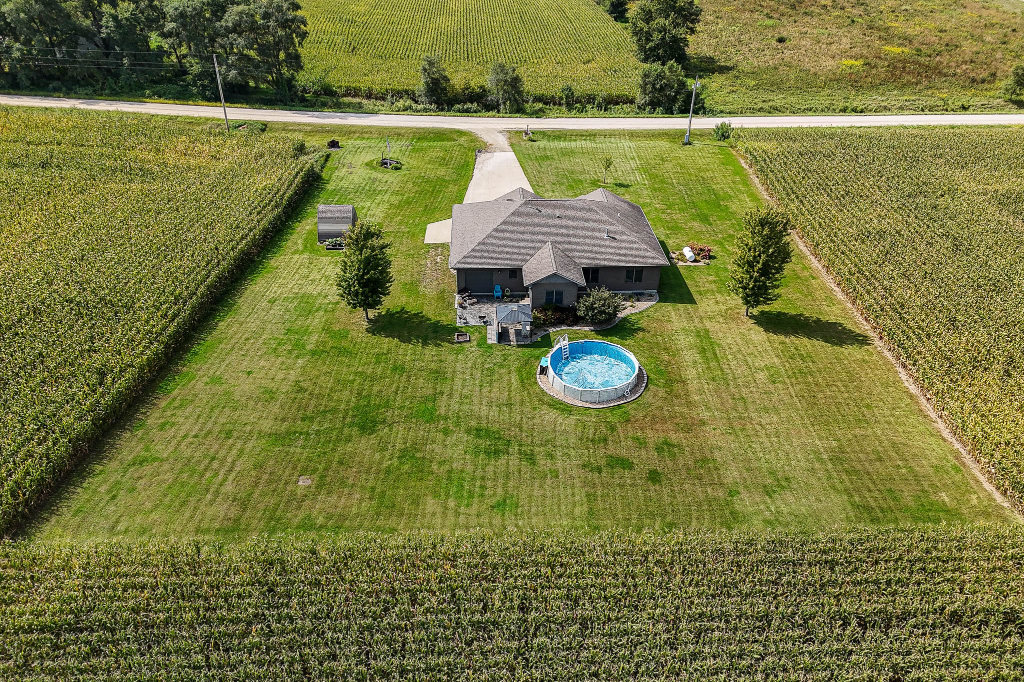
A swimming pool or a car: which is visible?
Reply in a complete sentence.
Of the two, only a swimming pool appears.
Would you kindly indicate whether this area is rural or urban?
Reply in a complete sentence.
From above, the setting appears rural.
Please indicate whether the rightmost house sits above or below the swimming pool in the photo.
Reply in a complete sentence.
Looking at the scene, the rightmost house is located above the swimming pool.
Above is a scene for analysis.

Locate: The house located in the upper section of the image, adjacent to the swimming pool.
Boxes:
[448,186,670,310]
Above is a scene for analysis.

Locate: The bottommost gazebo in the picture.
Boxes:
[496,303,533,343]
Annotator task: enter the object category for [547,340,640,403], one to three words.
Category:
swimming pool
